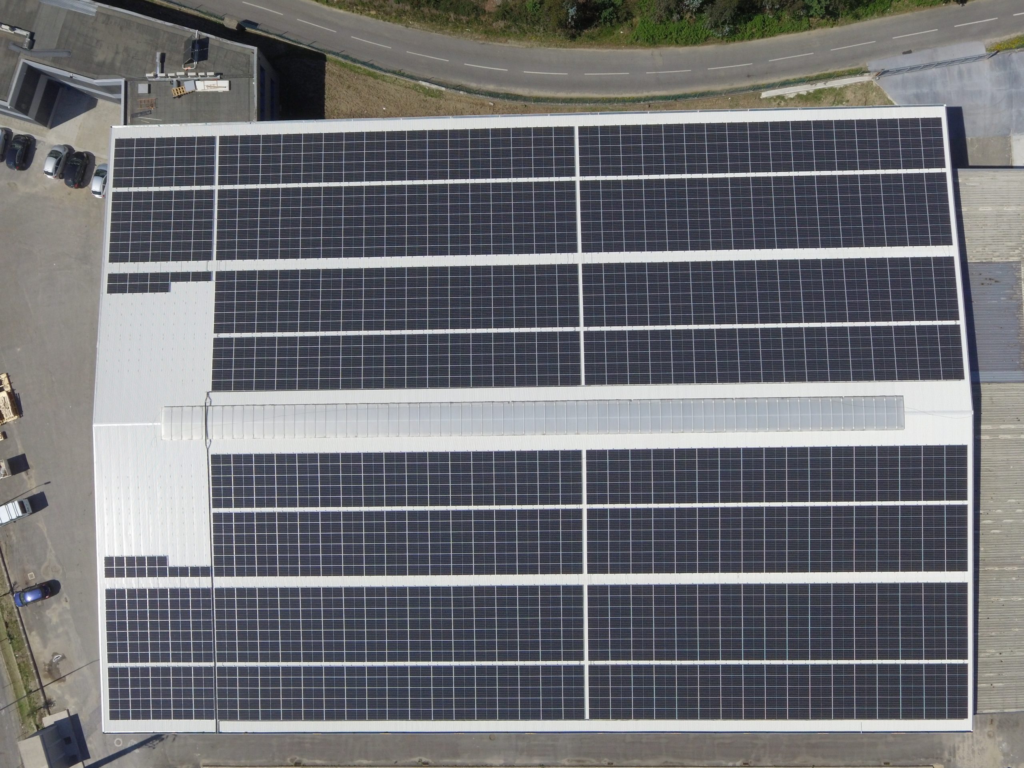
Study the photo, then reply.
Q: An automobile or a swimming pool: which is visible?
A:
automobile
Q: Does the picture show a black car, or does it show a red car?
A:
black car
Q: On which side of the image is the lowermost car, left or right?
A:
left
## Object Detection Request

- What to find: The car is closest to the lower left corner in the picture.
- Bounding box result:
[13,581,55,605]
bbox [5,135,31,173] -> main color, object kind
black car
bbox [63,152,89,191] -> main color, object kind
black car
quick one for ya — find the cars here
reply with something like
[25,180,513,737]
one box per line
[0,128,12,165]
[13,581,55,605]
[89,163,107,200]
[5,135,31,173]
[43,145,71,181]
[63,152,89,191]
